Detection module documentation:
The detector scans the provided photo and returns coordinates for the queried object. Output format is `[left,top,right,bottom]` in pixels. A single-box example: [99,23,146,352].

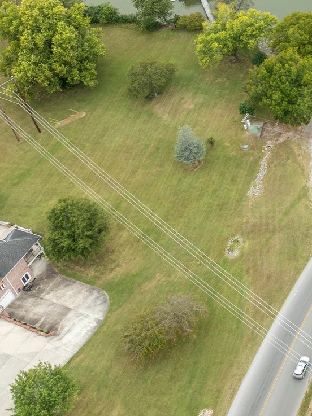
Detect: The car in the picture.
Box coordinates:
[287,354,307,381]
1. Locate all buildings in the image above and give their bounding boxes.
[244,121,263,138]
[0,216,52,331]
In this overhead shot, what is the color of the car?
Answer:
white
